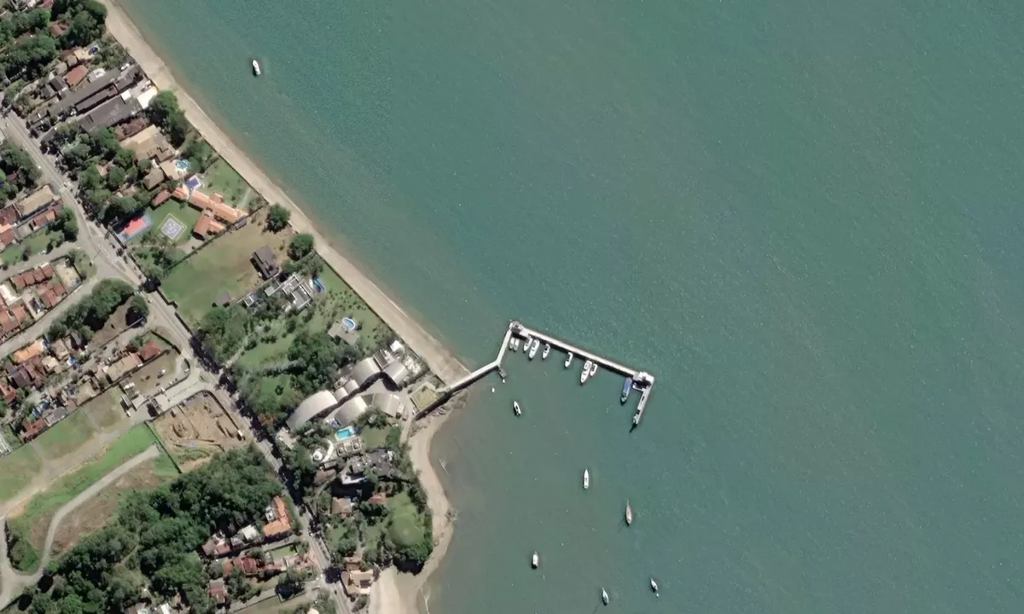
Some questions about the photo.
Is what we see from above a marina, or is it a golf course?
marina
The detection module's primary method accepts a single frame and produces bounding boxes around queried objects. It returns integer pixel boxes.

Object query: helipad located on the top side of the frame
[156,213,187,241]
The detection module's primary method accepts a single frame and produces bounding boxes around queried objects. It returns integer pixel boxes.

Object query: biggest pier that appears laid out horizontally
[445,320,654,424]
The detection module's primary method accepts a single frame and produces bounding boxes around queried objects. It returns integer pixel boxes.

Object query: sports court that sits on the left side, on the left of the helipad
[115,208,153,243]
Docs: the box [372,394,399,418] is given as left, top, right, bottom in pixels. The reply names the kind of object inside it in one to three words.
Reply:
shed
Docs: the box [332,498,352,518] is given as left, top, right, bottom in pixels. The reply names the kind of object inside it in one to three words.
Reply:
house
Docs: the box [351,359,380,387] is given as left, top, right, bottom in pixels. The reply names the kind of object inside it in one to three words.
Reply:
hangar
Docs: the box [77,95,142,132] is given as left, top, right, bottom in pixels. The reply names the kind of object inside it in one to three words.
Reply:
building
